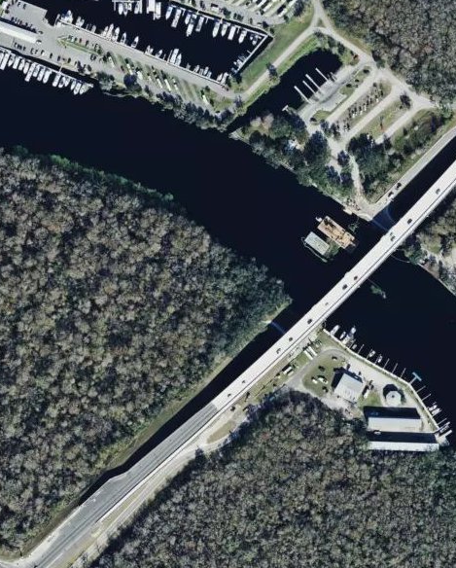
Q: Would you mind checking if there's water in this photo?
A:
Yes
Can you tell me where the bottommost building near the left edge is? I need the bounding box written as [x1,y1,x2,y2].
[0,21,38,42]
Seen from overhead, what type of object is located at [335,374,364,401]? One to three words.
building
